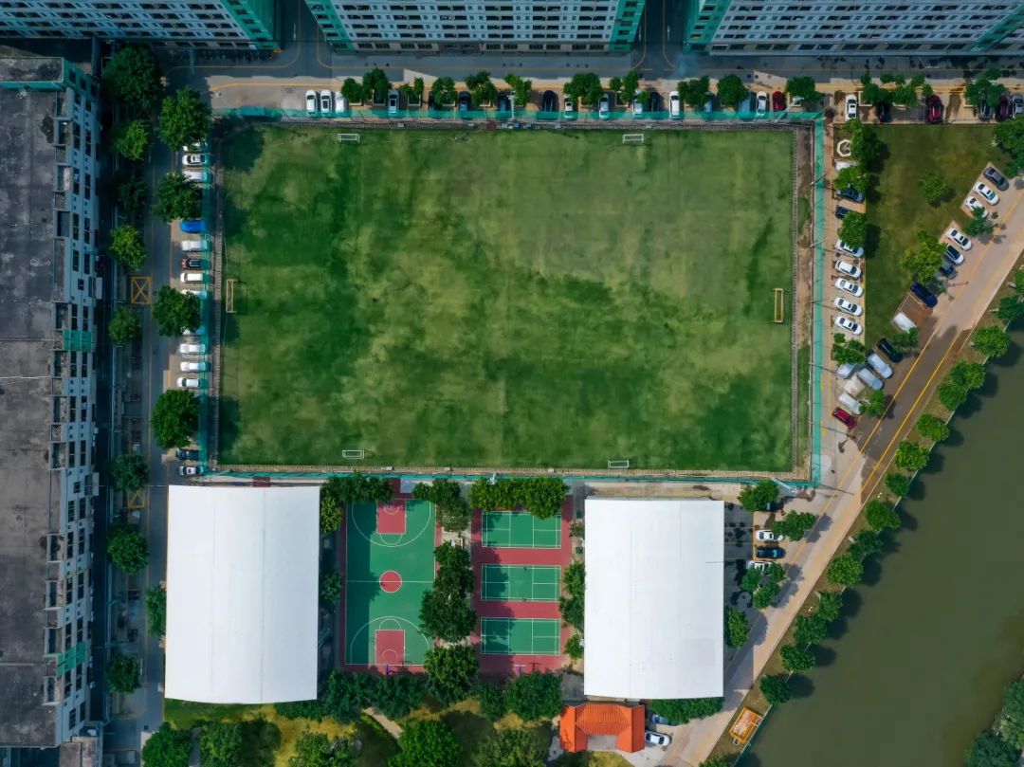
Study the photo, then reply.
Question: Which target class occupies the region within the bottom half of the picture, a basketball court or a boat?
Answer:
basketball court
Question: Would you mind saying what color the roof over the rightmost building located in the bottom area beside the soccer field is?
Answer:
white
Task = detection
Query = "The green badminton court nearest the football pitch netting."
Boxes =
[482,511,561,548]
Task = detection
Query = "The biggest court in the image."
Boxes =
[338,480,438,676]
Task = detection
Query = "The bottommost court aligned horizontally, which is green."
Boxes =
[481,618,560,654]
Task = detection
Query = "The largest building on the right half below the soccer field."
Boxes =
[583,499,724,699]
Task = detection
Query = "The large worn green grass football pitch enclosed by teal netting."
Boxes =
[206,120,814,481]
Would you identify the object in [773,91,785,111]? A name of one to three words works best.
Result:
vehicle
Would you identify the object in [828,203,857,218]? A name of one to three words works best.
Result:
car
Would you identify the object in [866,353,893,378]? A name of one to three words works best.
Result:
car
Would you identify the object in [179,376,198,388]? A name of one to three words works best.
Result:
vehicle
